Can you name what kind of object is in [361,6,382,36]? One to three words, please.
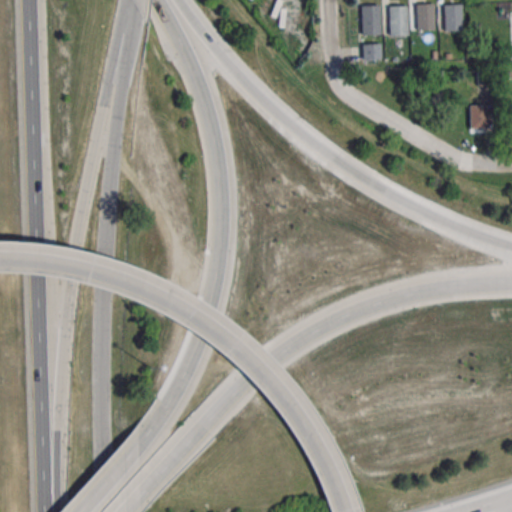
house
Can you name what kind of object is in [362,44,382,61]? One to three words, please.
building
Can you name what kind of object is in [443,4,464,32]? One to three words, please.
house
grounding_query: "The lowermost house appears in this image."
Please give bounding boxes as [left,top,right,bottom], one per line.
[469,106,488,132]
